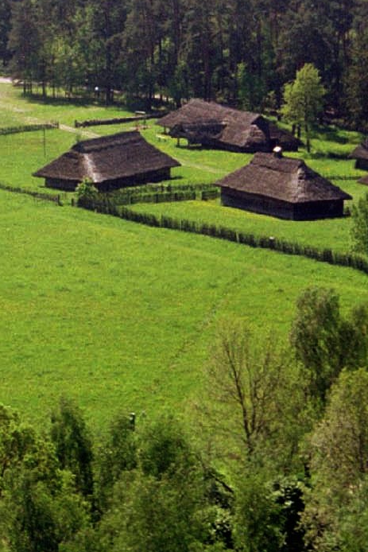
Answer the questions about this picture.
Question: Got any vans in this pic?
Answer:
No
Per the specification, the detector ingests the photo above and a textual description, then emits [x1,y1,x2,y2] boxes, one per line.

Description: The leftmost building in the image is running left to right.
[29,134,188,193]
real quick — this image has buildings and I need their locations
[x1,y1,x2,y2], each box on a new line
[317,129,368,170]
[211,147,354,221]
[29,134,188,193]
[161,105,310,153]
